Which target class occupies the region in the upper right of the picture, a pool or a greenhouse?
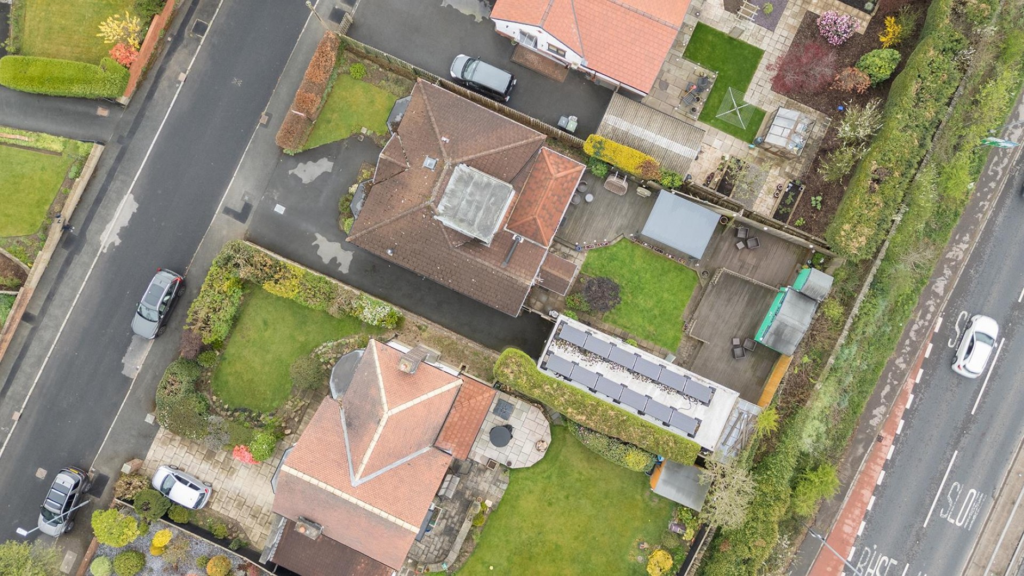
greenhouse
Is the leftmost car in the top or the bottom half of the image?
bottom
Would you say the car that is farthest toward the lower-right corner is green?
No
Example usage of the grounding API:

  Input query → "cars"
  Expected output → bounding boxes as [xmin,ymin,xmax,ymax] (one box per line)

[26,464,89,544]
[952,314,1008,385]
[145,466,212,517]
[123,265,183,343]
[446,52,522,109]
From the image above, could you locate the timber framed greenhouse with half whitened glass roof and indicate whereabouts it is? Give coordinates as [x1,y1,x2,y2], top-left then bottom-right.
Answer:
[756,107,816,161]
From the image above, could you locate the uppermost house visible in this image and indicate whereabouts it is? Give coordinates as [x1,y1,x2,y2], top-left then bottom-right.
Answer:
[487,0,695,100]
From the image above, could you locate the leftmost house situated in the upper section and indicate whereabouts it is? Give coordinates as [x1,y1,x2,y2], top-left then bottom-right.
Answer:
[346,79,587,317]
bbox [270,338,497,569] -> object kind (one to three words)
house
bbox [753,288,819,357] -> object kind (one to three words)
shed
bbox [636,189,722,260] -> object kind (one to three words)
gazebo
